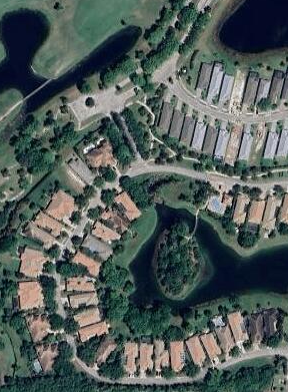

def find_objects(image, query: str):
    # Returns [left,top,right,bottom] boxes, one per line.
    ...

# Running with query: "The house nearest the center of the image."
[114,192,141,221]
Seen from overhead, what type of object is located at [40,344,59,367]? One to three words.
house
